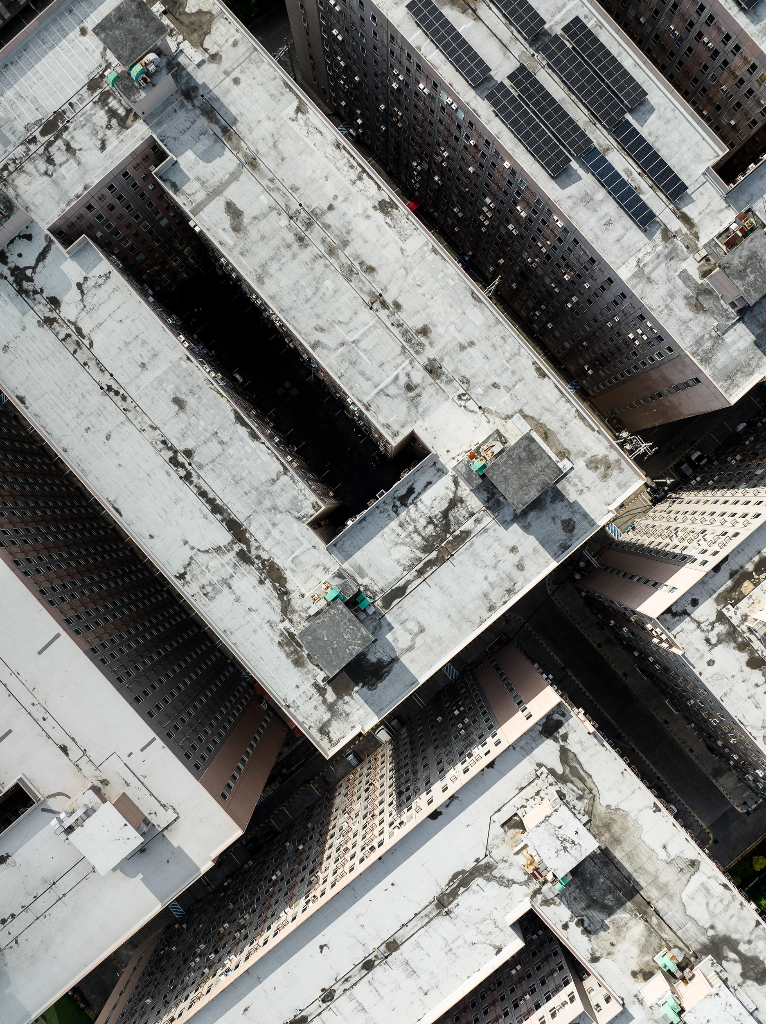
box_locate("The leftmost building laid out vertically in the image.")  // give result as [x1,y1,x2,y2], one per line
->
[0,406,286,1024]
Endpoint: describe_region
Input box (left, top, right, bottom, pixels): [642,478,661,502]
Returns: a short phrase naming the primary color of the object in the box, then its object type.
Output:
black car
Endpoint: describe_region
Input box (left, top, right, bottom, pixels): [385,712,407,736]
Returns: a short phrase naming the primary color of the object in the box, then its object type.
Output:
black car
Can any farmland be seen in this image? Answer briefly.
No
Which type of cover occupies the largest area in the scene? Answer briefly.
buildings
